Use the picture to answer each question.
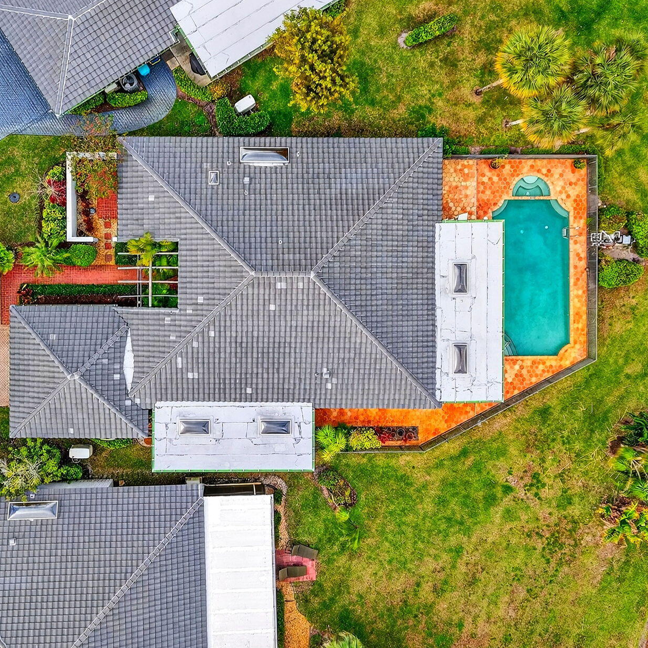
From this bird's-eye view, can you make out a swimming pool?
Yes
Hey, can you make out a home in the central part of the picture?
Yes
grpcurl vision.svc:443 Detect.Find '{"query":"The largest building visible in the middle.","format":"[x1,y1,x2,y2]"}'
[7,135,507,473]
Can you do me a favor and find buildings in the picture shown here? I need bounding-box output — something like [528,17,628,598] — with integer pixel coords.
[0,0,342,118]
[0,474,280,648]
[7,135,507,473]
